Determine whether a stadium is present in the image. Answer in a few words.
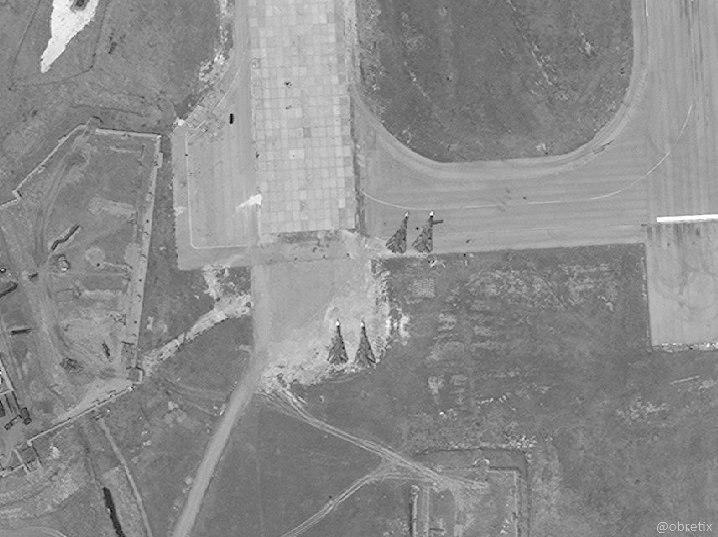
No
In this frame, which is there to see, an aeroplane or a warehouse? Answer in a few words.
aeroplane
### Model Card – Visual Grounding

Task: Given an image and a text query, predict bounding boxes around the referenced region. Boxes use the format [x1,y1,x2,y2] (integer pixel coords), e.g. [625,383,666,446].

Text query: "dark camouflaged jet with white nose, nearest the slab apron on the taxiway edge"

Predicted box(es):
[387,214,407,255]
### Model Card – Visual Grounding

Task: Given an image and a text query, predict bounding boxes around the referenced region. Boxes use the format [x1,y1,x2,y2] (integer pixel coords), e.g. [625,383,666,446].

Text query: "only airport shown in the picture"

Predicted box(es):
[173,0,718,391]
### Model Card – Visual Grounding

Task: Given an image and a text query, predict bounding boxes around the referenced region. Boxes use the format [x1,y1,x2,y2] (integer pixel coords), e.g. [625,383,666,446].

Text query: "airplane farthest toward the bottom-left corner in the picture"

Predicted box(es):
[328,322,348,363]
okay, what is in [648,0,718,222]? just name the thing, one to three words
runway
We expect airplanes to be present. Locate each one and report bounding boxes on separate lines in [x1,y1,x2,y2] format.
[387,214,407,255]
[355,321,375,364]
[328,322,348,363]
[413,212,433,254]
